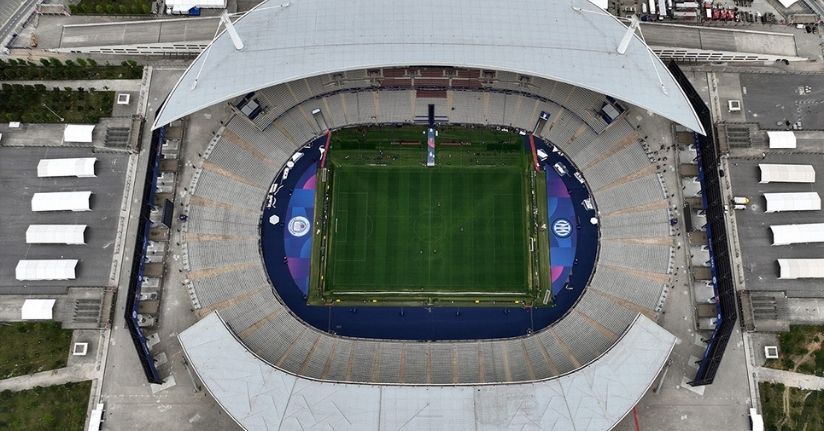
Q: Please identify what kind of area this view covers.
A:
sports ground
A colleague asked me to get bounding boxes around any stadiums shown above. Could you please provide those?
[152,0,706,431]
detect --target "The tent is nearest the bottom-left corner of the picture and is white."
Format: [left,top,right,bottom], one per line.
[23,299,58,321]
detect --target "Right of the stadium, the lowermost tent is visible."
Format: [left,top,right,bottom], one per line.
[774,259,824,280]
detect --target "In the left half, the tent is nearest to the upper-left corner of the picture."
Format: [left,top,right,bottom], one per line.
[64,126,97,143]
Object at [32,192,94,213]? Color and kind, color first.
white tent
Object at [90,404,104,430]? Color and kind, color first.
white vehicle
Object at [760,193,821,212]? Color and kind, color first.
white tent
